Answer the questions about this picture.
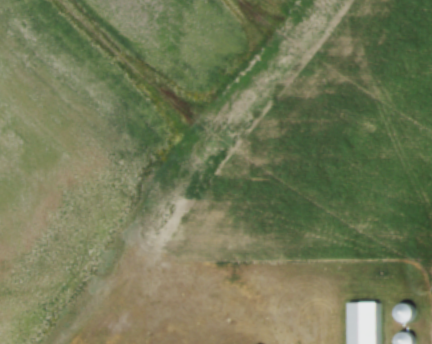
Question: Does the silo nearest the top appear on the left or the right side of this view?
right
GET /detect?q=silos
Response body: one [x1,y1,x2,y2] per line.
[392,332,418,344]
[392,304,418,326]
